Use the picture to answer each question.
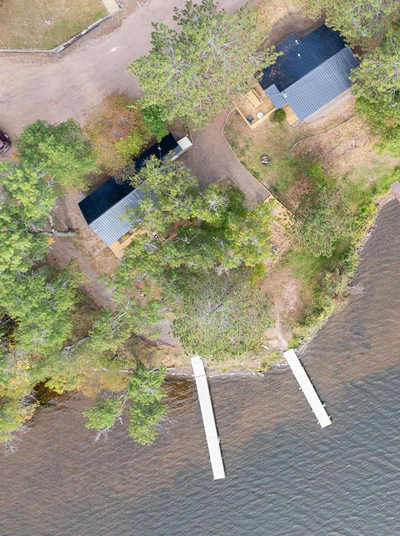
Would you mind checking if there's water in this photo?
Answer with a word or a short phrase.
Yes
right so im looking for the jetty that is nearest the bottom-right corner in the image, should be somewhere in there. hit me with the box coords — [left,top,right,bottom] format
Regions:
[284,349,331,431]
